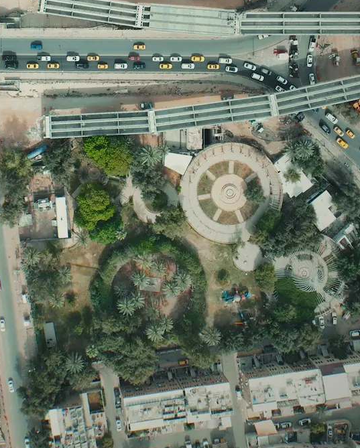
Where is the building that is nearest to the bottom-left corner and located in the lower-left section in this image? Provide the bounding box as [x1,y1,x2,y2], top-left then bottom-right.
[50,396,90,448]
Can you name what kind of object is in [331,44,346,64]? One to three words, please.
work vehicle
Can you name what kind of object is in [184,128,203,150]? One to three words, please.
shed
